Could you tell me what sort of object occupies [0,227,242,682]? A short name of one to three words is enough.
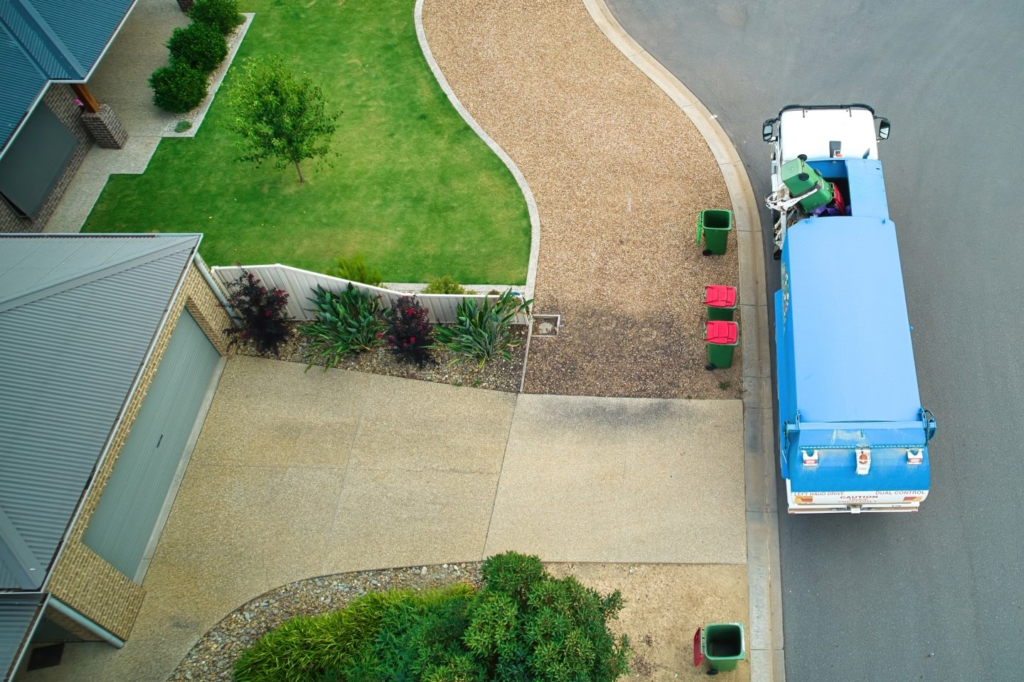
building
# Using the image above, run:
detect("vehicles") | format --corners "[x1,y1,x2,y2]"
[763,106,940,520]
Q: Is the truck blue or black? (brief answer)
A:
blue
